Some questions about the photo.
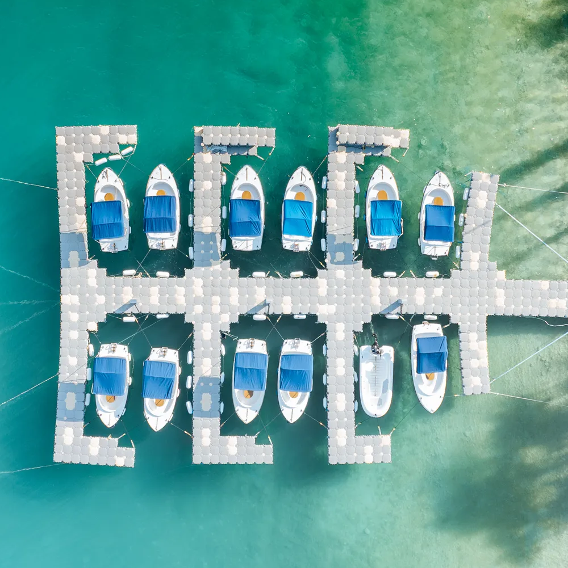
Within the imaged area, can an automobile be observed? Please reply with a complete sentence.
No, I find no automobile anywhere in the image.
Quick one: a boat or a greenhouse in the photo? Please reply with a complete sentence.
This aerial view contains a boat.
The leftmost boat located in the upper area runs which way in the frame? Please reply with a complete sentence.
From this overhead view, the leftmost boat located in the upper area appears to run up and down.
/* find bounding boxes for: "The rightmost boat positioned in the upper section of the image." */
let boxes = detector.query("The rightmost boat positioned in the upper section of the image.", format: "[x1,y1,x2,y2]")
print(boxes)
[419,170,457,257]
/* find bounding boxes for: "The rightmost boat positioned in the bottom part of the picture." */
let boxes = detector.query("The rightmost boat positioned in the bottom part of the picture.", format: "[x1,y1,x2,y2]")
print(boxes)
[410,323,450,415]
